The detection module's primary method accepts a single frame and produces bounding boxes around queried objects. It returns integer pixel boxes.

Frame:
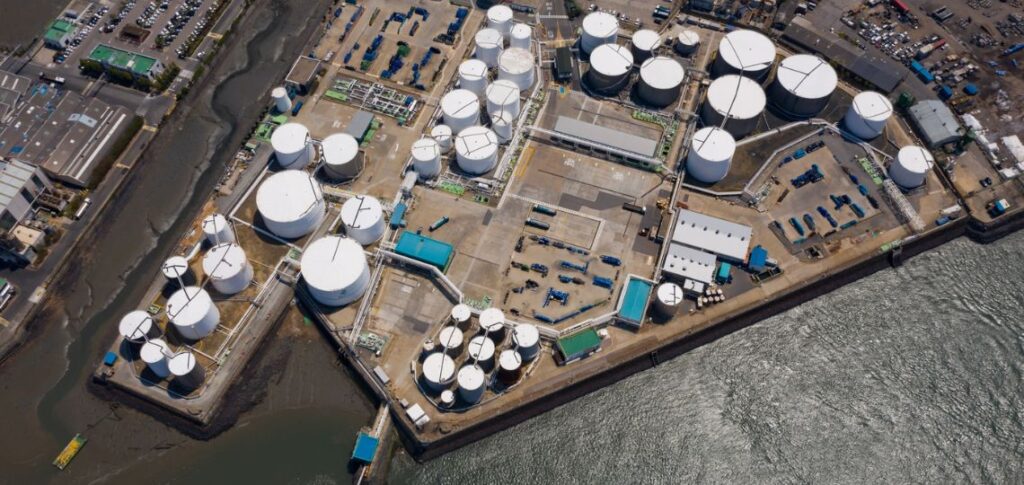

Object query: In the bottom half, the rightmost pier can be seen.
[351,400,388,485]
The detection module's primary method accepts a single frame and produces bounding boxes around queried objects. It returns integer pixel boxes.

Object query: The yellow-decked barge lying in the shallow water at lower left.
[55,434,87,468]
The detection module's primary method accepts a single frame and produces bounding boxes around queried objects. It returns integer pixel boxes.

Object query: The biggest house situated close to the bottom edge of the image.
[352,432,380,465]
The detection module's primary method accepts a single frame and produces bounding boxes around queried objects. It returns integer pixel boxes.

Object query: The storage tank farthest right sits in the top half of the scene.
[890,145,934,188]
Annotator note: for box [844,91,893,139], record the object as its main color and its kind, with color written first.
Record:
white storage tank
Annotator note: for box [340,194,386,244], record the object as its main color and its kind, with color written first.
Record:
white storage tank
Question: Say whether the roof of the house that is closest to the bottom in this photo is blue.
Yes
